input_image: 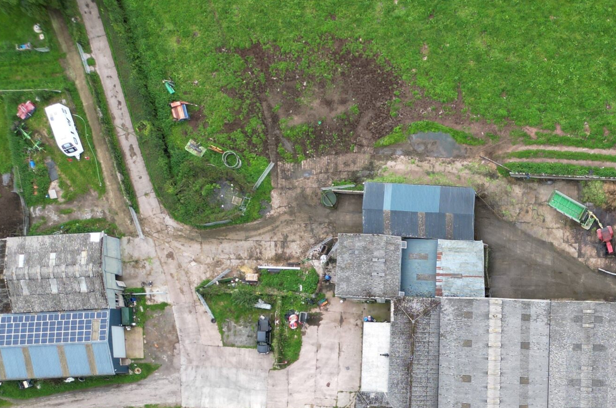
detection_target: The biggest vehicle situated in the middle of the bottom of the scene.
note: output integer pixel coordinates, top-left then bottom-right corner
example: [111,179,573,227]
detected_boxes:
[257,319,273,356]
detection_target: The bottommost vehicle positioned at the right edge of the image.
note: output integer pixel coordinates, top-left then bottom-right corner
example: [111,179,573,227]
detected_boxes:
[595,224,616,255]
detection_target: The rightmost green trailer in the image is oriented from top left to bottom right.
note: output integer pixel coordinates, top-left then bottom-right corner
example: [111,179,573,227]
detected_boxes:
[547,190,597,230]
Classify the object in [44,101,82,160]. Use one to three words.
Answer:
camper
